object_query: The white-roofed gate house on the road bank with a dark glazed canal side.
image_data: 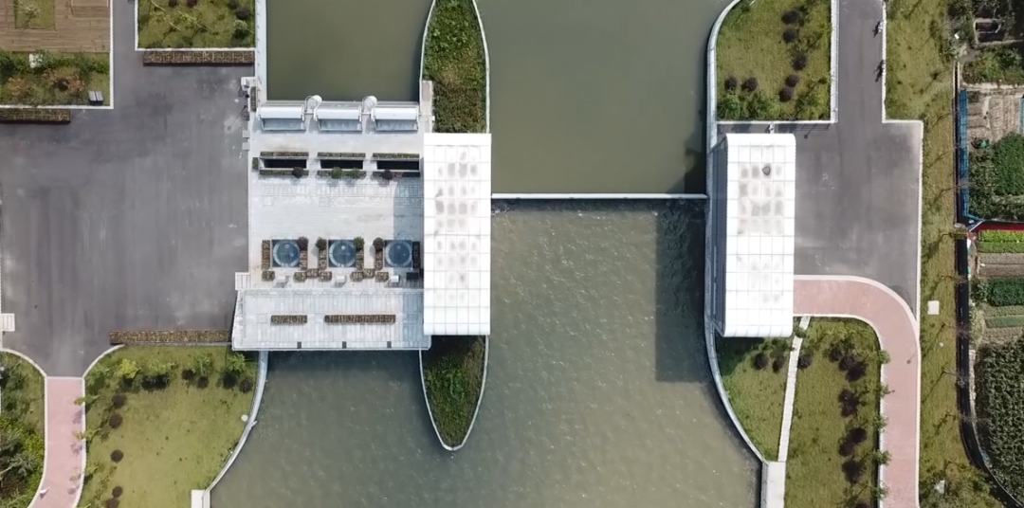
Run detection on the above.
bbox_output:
[713,133,793,335]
